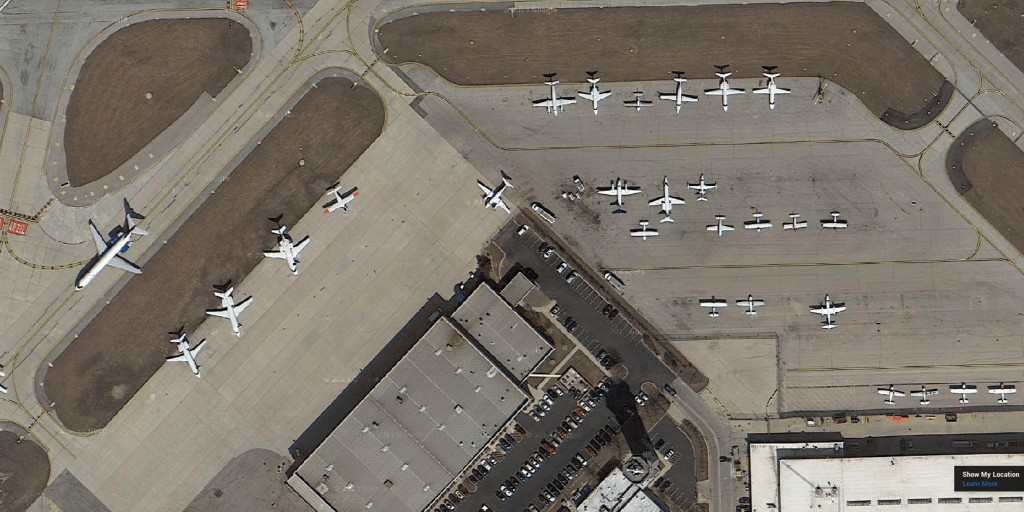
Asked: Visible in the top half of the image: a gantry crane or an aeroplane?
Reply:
aeroplane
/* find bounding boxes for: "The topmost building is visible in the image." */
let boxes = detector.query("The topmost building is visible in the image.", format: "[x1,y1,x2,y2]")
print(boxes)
[500,273,536,306]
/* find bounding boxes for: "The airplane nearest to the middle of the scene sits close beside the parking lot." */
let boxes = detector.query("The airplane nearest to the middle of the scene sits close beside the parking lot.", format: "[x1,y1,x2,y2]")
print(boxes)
[478,177,512,211]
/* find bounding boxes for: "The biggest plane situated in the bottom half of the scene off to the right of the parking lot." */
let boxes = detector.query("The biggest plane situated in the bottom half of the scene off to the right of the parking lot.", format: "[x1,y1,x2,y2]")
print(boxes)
[810,296,847,329]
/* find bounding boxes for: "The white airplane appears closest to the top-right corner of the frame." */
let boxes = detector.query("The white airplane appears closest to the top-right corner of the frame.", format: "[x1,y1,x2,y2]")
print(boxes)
[752,72,792,109]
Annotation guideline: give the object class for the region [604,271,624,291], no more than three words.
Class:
vehicle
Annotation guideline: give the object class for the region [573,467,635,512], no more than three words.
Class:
building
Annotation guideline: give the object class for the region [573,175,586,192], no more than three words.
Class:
vehicle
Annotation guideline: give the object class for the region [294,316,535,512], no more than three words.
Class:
building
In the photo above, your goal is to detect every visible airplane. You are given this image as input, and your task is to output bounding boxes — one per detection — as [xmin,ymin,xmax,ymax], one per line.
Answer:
[264,225,308,275]
[706,218,734,236]
[577,79,610,115]
[478,177,512,211]
[810,296,847,329]
[704,74,745,111]
[699,297,727,316]
[744,213,772,233]
[533,81,576,115]
[910,386,938,405]
[752,72,792,109]
[76,215,148,290]
[649,179,685,221]
[597,180,641,214]
[688,174,716,203]
[207,289,251,337]
[737,296,765,315]
[631,222,658,241]
[988,384,1016,403]
[322,186,356,212]
[168,336,205,378]
[950,384,977,403]
[877,386,905,405]
[624,93,653,112]
[660,78,698,114]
